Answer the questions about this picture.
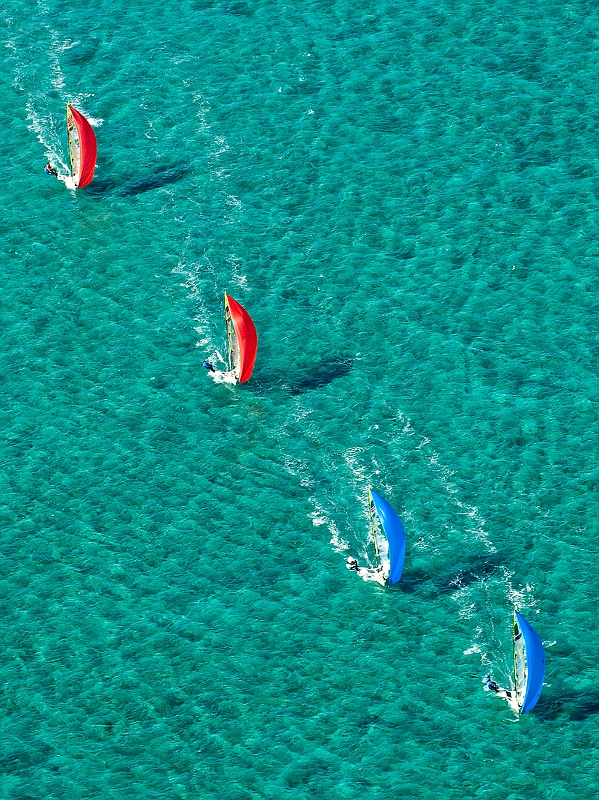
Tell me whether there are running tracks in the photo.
No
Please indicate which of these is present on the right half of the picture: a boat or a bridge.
boat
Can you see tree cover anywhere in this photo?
No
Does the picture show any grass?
No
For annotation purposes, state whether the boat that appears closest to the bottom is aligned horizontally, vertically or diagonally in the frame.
vertically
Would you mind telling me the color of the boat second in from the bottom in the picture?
blue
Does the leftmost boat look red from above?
Yes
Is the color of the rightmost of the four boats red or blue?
blue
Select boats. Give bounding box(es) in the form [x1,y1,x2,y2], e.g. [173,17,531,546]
[211,291,260,385]
[356,486,408,588]
[52,103,97,190]
[490,605,547,716]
